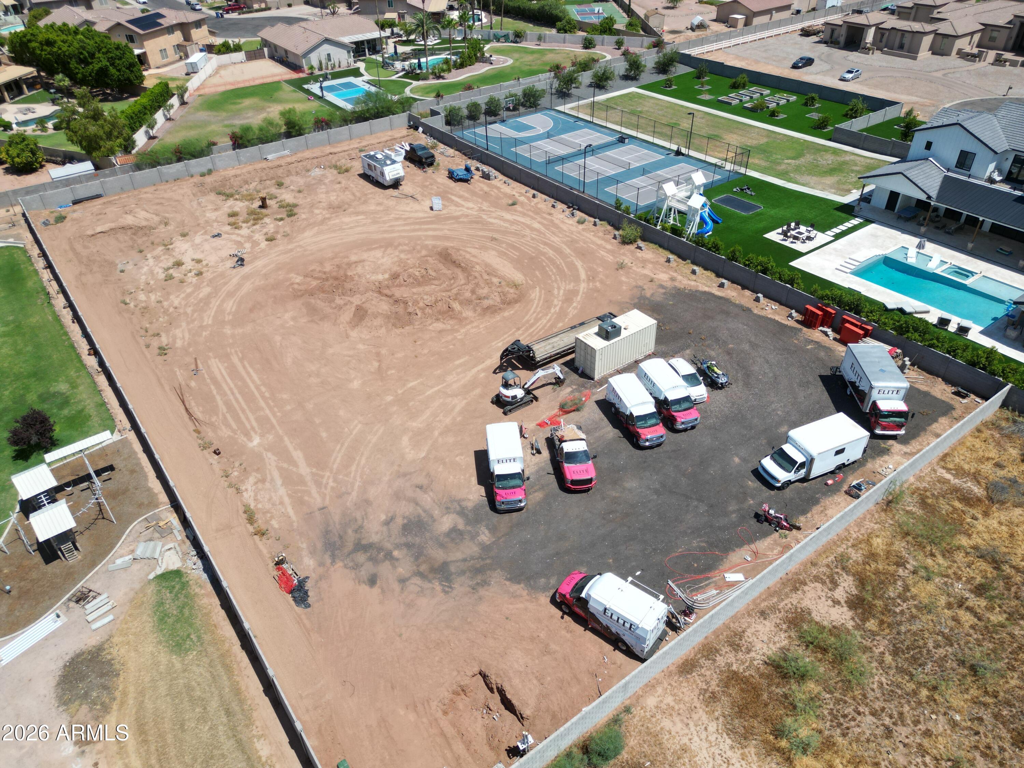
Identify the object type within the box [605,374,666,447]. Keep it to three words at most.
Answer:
vehicle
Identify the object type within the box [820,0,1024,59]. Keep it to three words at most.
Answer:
house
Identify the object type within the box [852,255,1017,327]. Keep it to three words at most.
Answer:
swimming pool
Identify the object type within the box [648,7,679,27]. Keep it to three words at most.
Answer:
shed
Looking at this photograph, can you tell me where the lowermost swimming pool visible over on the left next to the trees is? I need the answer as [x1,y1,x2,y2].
[15,109,61,127]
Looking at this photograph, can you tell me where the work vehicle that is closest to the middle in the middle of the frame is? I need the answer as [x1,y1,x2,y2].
[492,357,559,414]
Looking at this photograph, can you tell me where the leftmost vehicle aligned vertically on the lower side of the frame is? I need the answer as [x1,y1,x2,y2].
[486,422,531,508]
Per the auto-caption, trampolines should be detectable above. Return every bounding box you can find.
[715,195,761,213]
